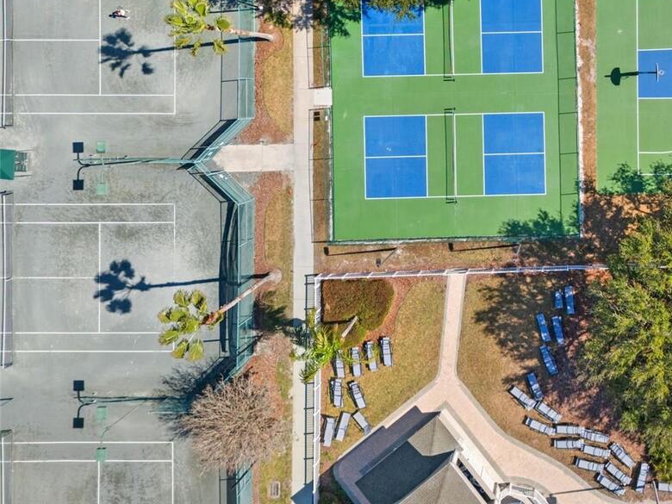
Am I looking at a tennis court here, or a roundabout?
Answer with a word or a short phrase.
tennis court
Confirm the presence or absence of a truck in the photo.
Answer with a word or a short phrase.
No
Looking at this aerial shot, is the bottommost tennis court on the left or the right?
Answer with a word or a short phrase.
left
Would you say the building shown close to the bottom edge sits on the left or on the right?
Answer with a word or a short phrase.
right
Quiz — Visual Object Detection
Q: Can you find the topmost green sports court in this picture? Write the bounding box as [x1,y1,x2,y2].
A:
[331,0,577,97]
